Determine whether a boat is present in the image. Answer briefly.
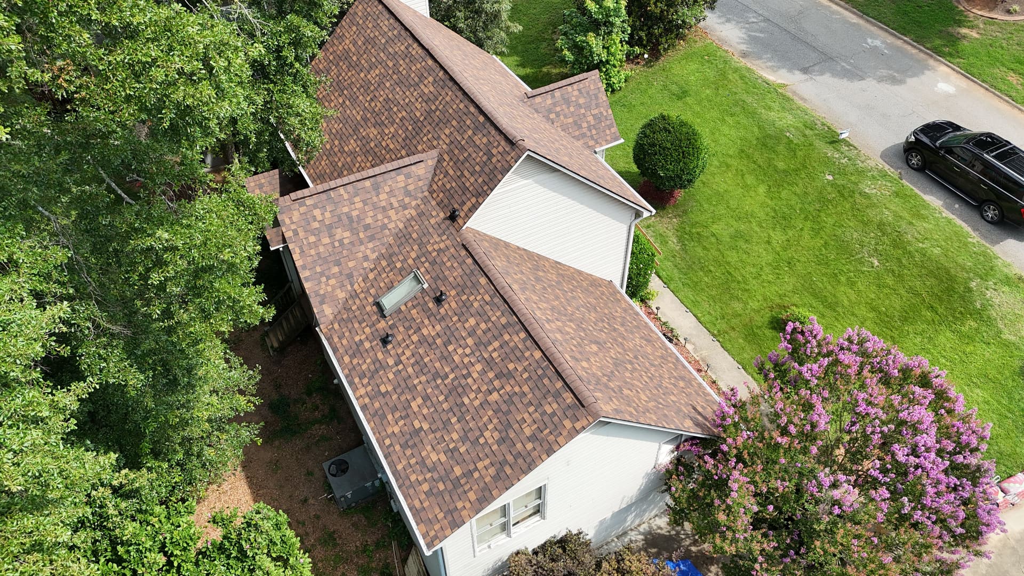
No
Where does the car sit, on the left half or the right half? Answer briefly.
right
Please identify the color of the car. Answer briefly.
black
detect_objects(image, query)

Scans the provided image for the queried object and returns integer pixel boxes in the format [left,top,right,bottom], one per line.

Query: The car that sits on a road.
[901,119,1024,231]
